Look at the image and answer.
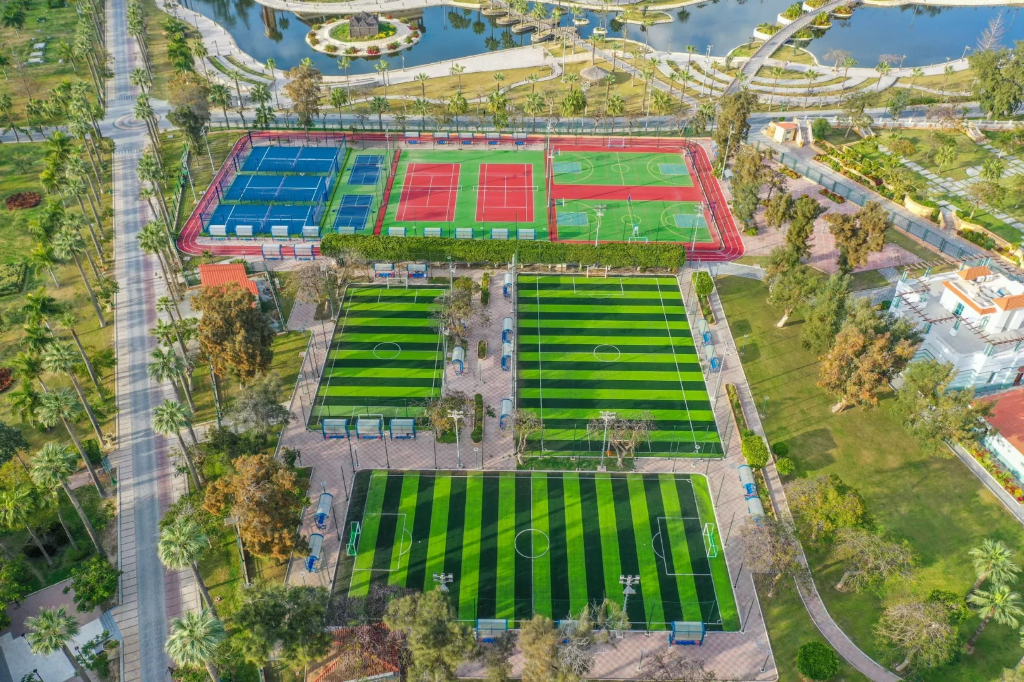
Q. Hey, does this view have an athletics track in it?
Yes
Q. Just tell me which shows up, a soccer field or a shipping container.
soccer field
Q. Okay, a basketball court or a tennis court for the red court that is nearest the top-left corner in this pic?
tennis court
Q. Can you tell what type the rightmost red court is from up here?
tennis court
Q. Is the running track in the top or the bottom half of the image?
top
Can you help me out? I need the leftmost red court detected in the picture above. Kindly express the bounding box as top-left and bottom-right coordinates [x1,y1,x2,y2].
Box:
[395,163,464,221]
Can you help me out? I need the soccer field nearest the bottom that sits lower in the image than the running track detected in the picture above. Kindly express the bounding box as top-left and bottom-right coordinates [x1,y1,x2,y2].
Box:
[322,468,745,635]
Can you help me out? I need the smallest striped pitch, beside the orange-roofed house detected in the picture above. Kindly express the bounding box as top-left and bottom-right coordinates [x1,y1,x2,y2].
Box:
[305,282,454,434]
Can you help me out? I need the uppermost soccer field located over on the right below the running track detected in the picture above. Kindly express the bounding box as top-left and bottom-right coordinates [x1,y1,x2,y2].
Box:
[515,272,726,459]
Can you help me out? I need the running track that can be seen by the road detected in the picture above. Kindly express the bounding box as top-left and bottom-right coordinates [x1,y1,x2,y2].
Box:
[173,131,745,262]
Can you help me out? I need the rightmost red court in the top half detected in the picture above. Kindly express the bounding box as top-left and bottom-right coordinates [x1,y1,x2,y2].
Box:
[471,163,540,222]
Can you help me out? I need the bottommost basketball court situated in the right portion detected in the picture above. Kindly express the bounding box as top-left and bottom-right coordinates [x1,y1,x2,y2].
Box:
[555,199,714,242]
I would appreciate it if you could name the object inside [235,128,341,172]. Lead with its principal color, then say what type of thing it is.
blue sports court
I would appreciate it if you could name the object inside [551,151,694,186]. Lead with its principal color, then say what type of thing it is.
green basketball court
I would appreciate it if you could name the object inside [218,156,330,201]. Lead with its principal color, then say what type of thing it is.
blue sports court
